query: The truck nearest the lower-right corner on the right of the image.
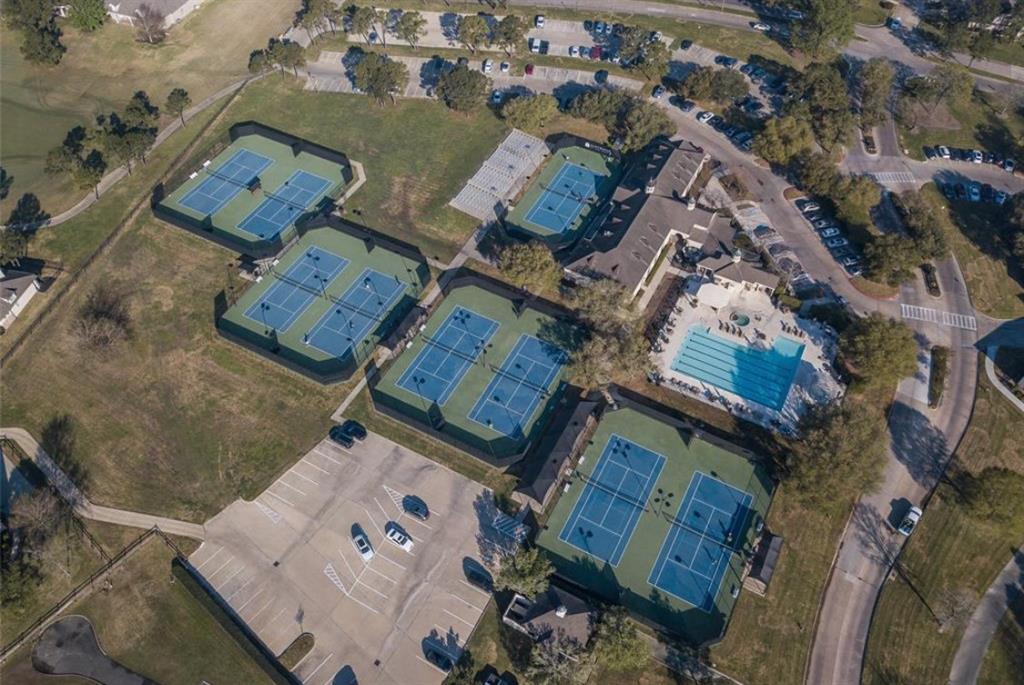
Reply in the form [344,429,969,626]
[900,503,923,533]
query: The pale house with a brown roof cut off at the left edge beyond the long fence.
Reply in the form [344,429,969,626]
[0,273,37,326]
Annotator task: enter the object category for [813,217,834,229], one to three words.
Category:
vehicle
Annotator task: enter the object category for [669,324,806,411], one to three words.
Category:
swimming pool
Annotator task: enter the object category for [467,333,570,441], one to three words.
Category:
tennis court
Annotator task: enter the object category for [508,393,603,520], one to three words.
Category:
building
